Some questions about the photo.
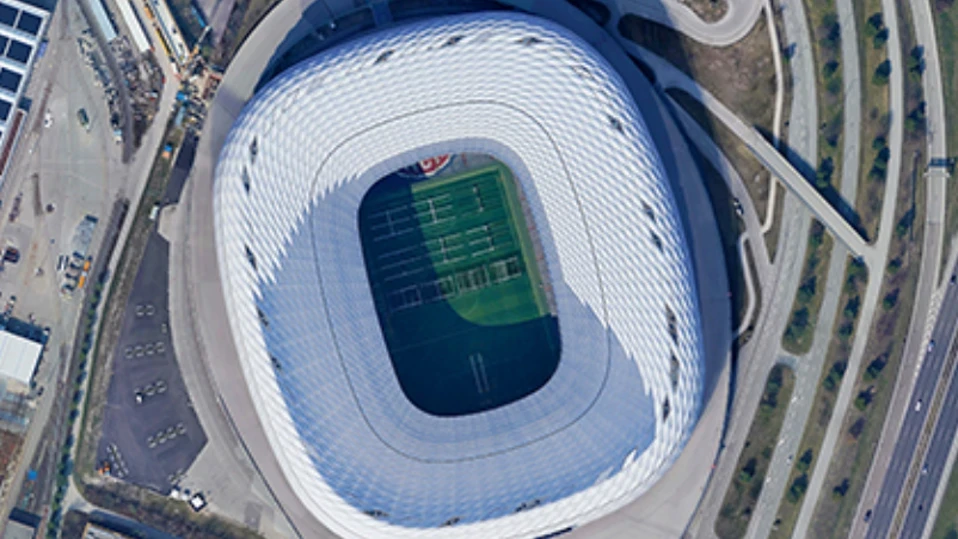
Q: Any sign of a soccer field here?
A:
Yes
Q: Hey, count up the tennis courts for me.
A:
0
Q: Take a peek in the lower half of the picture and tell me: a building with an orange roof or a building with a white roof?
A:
building with a white roof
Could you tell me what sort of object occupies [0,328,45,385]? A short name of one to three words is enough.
building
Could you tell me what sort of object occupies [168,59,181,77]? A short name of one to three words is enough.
vehicle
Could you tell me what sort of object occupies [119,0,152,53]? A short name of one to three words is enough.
shed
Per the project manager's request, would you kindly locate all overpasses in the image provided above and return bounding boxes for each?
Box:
[675,66,875,258]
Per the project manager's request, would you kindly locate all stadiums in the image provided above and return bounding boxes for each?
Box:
[212,9,705,539]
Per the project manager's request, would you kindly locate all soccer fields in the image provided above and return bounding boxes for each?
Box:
[359,164,558,416]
